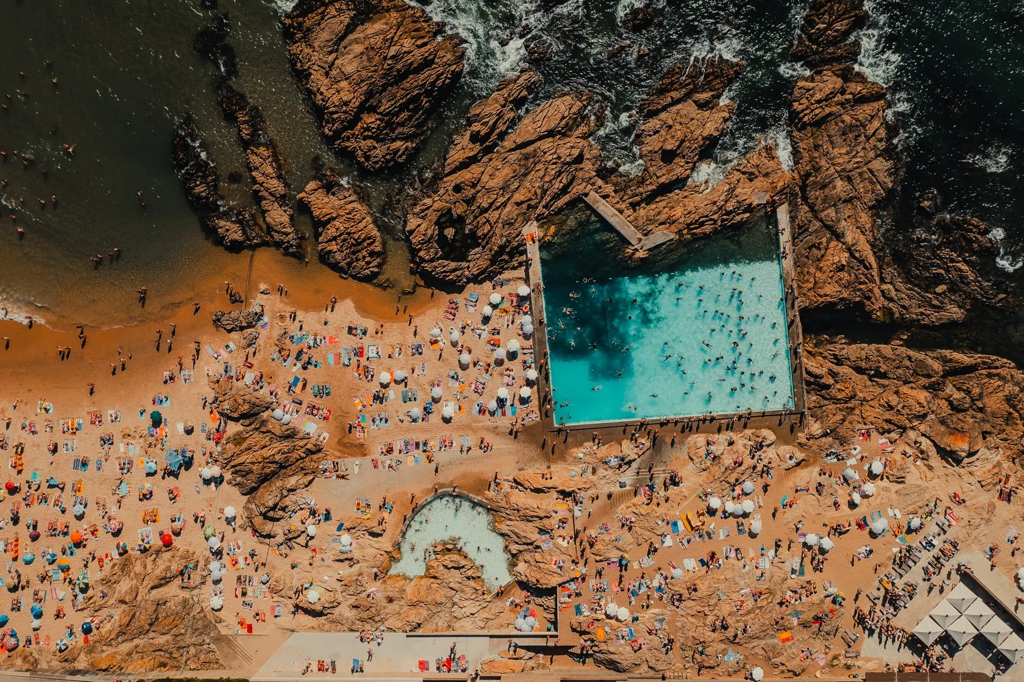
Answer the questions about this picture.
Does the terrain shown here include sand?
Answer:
Yes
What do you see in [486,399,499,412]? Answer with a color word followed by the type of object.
white umbrella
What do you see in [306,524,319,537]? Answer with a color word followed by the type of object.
white umbrella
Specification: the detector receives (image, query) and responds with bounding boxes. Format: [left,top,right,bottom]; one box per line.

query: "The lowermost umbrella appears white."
[750,666,764,679]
